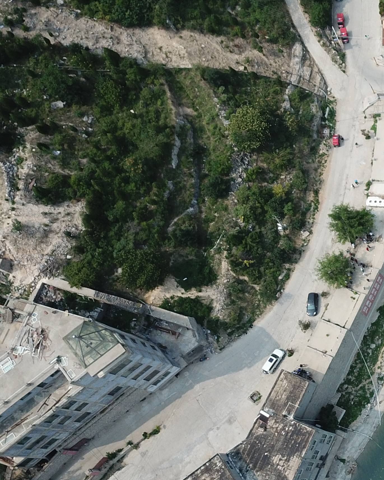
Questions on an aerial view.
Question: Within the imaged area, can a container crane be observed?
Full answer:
No, the scene contains no container crane.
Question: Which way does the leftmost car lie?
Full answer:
In this picture, the leftmost car lies on a diagonal.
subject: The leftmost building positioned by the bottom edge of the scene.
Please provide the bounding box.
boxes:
[0,305,179,478]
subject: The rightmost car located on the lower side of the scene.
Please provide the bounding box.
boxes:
[305,292,319,318]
